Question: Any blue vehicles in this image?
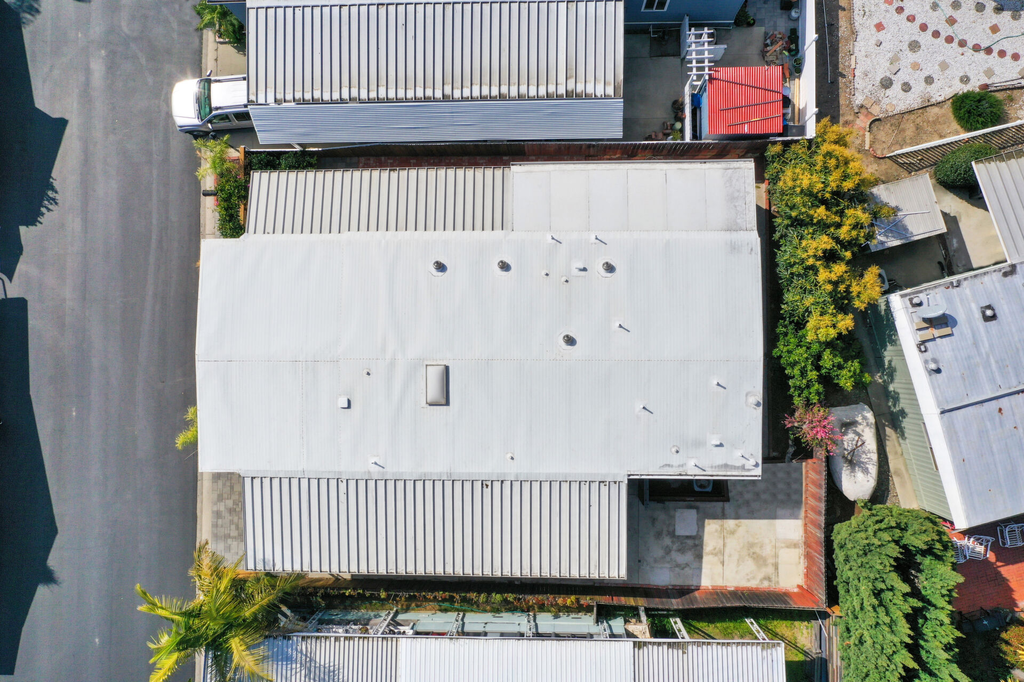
No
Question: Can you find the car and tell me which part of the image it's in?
top left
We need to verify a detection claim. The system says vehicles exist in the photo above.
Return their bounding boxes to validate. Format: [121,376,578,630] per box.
[170,67,255,136]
